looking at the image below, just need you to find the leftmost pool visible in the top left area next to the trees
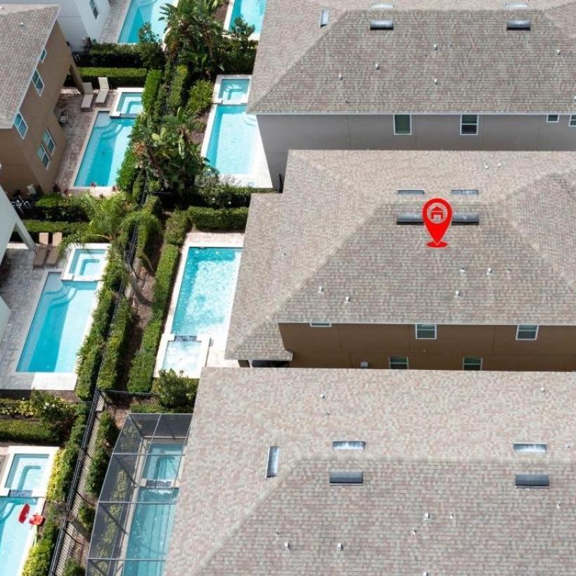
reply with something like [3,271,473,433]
[67,87,144,189]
